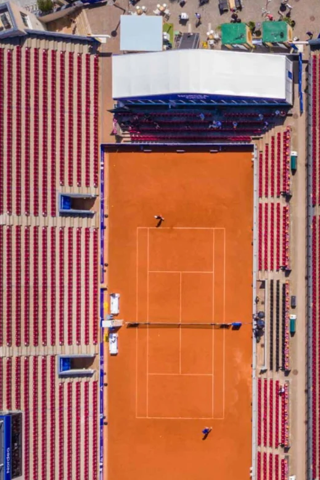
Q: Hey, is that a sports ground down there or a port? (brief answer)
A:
sports ground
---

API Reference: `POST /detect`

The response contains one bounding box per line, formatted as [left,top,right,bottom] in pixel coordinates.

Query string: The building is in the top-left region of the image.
[14,6,57,33]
